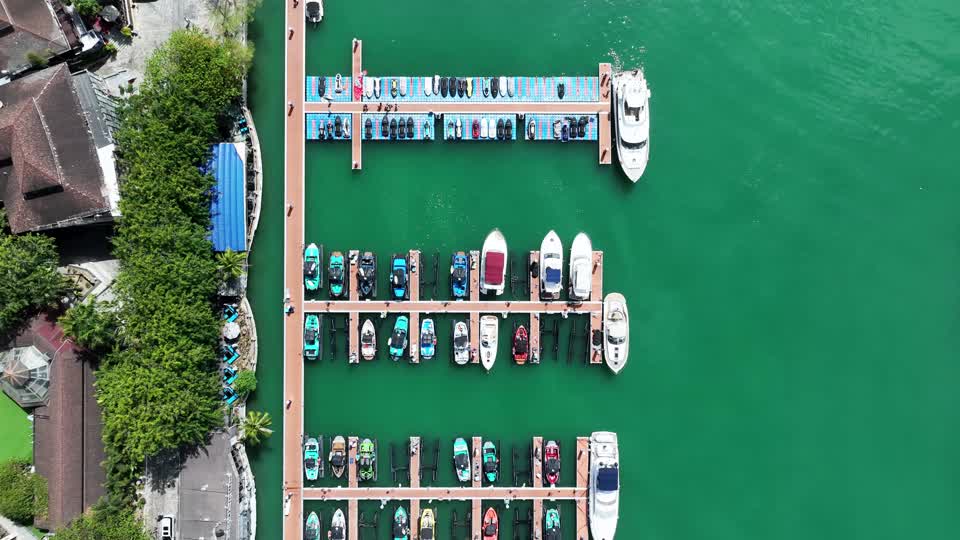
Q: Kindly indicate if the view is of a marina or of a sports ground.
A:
marina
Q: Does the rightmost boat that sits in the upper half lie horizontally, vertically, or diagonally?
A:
vertically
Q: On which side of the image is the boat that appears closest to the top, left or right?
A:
left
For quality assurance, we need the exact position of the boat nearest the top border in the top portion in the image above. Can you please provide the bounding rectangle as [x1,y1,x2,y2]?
[305,0,325,30]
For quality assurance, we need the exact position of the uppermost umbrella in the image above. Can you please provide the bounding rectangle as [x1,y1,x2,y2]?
[103,6,123,24]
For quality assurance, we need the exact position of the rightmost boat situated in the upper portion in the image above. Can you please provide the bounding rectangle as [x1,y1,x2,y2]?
[609,66,652,183]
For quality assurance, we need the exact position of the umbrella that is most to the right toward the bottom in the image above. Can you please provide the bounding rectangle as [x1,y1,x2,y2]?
[224,322,241,338]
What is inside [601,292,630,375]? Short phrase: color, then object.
white boat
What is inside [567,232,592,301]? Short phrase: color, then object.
white boat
